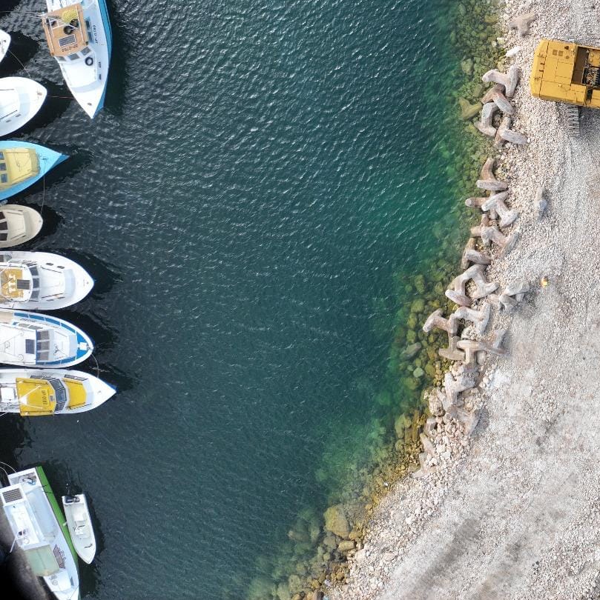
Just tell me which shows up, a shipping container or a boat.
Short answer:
boat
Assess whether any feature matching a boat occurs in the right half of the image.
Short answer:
No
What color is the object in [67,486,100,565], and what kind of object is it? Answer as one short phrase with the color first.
white boat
